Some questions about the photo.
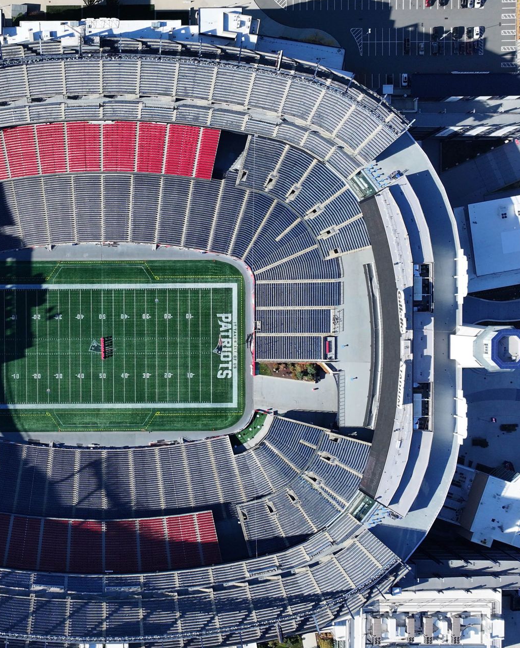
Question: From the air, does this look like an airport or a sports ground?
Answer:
sports ground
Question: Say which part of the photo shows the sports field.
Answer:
left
